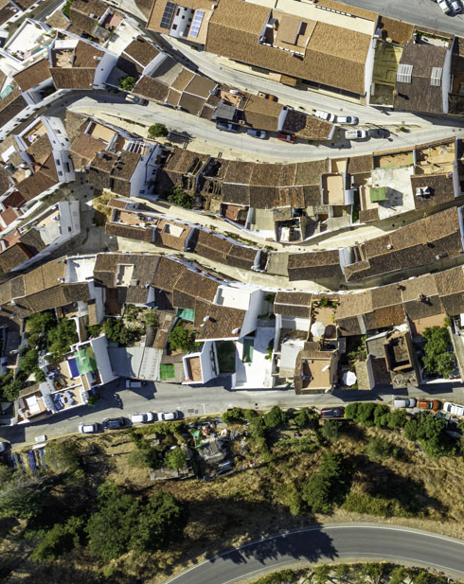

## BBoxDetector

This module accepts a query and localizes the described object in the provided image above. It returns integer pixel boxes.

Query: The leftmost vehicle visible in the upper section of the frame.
[127,93,147,107]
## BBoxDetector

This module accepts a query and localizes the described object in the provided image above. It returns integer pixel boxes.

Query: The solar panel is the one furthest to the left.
[160,1,176,28]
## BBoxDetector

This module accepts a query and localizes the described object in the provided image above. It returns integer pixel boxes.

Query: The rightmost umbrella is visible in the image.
[340,375,354,388]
